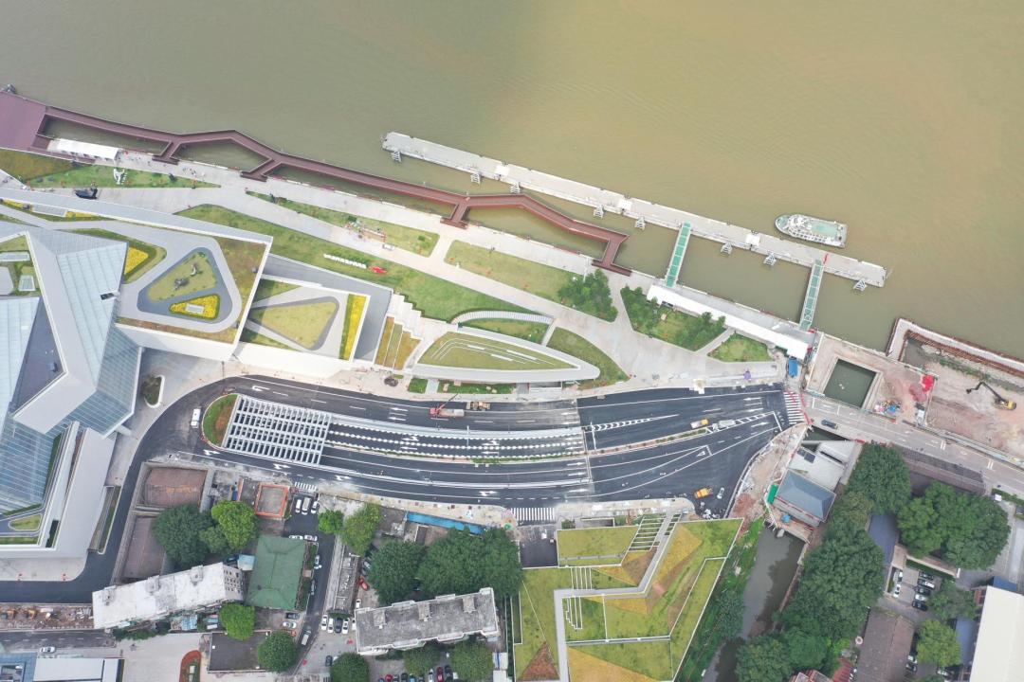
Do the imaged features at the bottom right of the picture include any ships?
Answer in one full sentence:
No, there is no ship at the bottom right of the picture.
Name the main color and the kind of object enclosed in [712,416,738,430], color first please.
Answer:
white vehicle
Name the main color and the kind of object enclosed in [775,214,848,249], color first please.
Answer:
white ship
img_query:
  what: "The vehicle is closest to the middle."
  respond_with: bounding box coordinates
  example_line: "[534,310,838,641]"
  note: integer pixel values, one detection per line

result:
[431,382,466,419]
